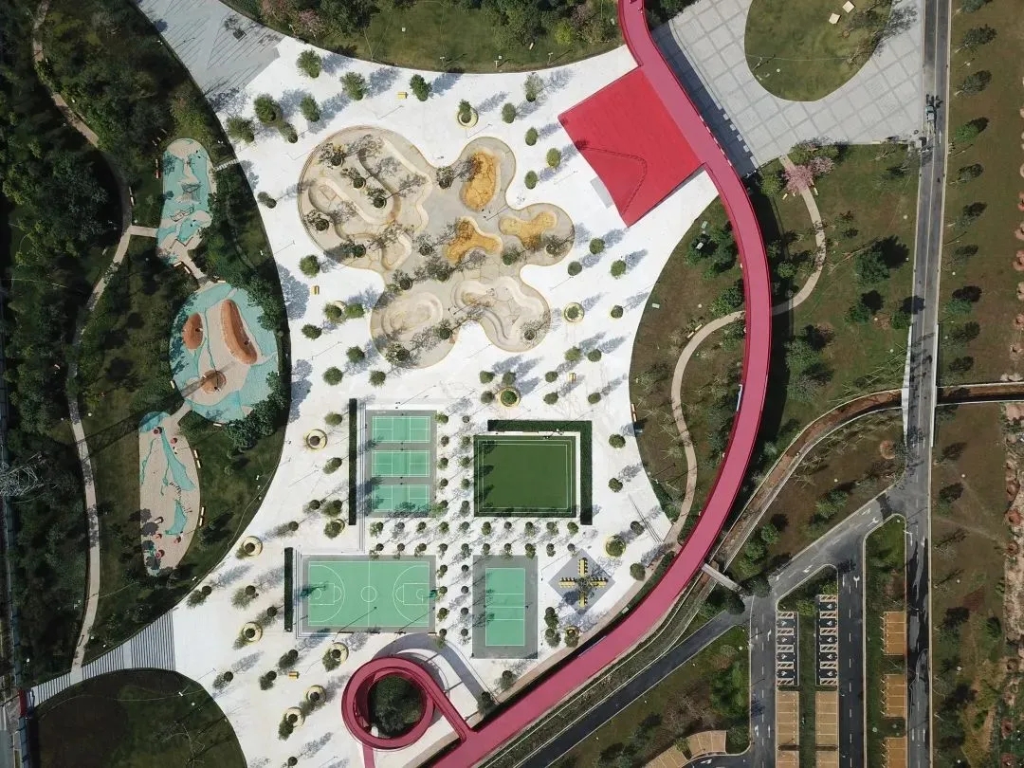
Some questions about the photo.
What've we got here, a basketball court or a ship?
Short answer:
basketball court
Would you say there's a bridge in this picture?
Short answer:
Yes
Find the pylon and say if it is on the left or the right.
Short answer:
left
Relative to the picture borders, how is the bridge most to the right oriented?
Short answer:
up and down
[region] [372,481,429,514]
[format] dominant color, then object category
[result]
green sports court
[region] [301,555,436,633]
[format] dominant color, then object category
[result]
green basketball court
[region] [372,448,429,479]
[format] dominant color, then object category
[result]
green sports court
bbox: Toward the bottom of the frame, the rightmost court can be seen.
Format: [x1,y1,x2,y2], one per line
[473,555,538,659]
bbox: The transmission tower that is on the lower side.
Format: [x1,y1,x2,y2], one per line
[0,455,48,492]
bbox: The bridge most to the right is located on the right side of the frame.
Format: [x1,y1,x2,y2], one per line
[904,324,940,447]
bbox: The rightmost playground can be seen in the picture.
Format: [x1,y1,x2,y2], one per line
[299,126,574,367]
